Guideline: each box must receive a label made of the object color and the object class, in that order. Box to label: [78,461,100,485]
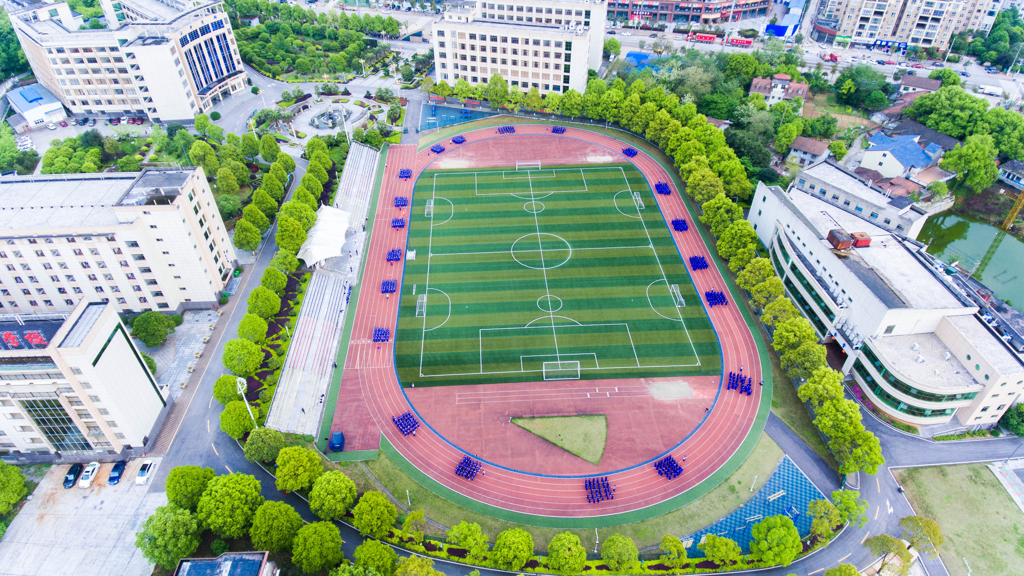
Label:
white car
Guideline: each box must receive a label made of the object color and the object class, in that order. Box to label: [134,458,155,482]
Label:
white car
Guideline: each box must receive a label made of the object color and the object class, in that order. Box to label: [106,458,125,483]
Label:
blue car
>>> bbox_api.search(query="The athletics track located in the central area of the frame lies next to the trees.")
[319,122,772,530]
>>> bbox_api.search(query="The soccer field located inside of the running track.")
[398,163,719,389]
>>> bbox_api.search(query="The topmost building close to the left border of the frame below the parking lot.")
[0,166,244,322]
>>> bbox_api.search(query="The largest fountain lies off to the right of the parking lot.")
[308,106,354,129]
